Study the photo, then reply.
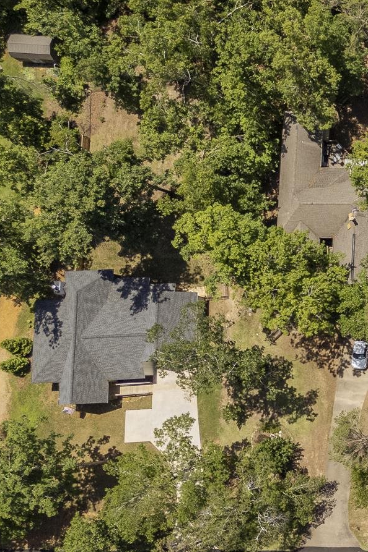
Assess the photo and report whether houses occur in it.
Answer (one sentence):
Yes, a house appears in the view.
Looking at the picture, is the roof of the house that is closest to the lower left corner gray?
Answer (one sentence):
Yes, the roof of the house that is closest to the lower left corner is gray.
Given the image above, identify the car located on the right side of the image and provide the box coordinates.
[352,340,367,372]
